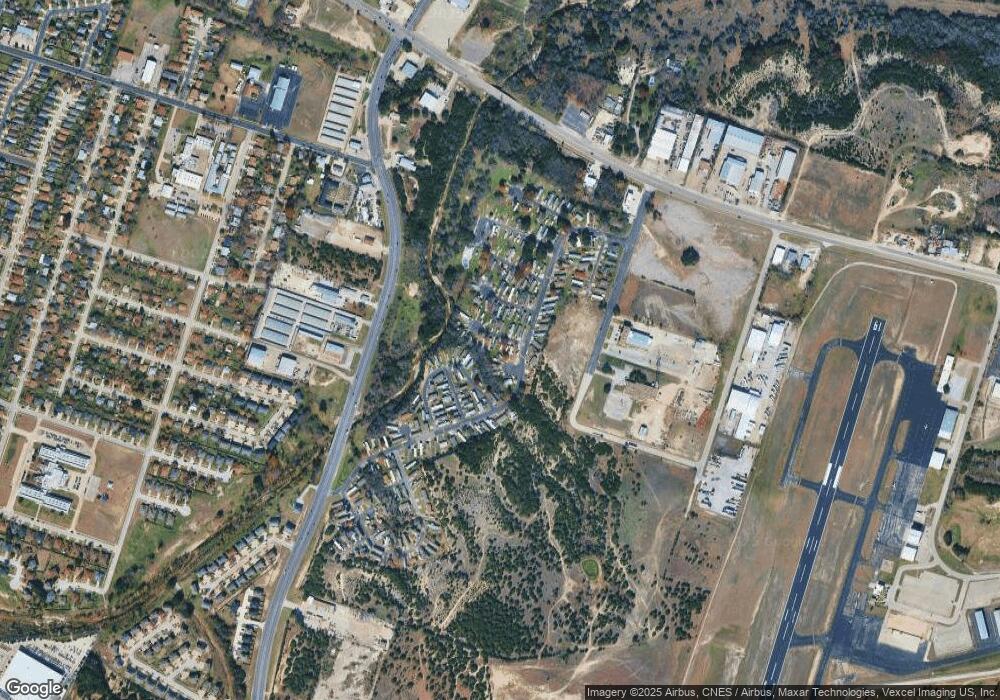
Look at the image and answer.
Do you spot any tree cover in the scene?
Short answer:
Yes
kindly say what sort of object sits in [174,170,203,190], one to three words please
building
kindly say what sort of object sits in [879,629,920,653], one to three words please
hangar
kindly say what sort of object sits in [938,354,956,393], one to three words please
building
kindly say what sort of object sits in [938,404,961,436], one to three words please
hangar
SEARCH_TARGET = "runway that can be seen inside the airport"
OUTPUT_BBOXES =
[762,316,887,700]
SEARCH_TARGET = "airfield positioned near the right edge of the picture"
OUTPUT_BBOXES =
[761,315,987,700]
